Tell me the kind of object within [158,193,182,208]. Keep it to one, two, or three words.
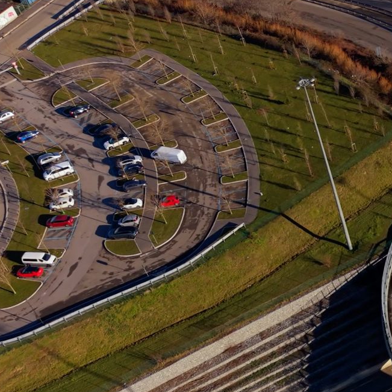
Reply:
car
